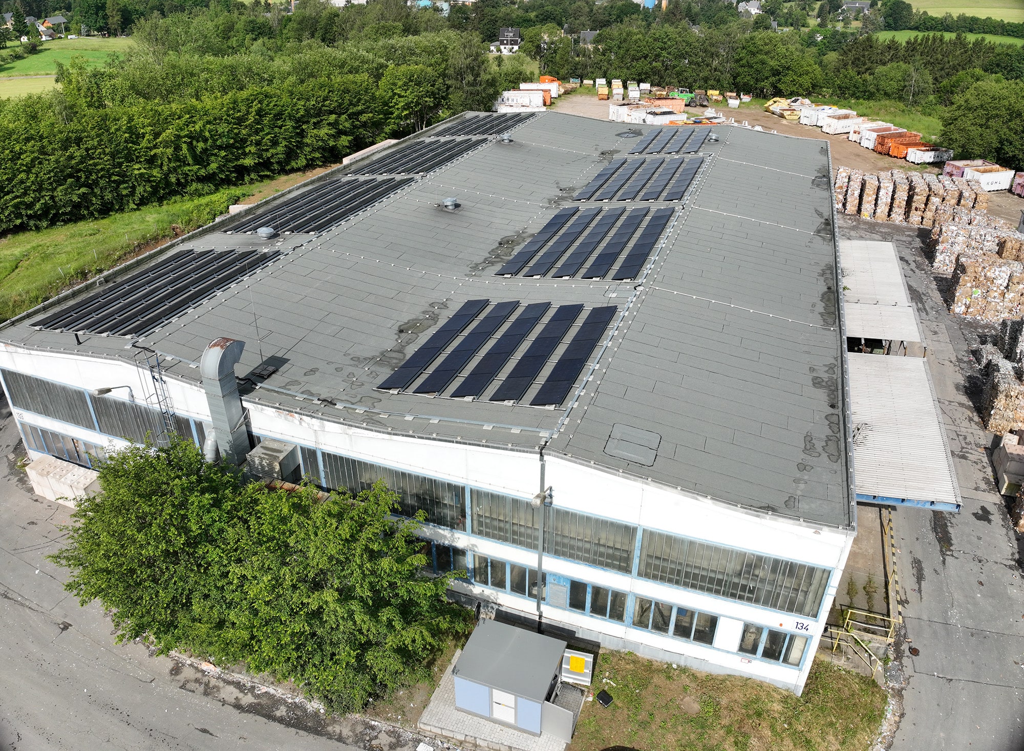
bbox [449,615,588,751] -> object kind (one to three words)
shed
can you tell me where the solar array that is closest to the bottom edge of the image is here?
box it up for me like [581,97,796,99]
[374,295,617,413]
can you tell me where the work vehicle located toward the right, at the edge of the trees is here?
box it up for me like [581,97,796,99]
[677,87,709,108]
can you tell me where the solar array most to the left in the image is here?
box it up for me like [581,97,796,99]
[31,244,281,341]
